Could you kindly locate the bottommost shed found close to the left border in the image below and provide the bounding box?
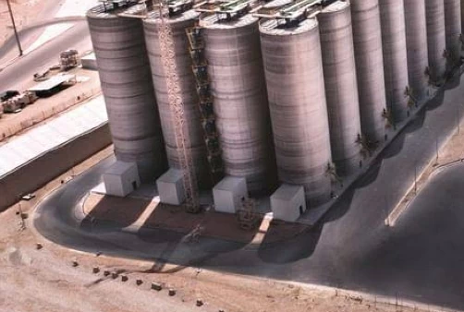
[0,106,111,212]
